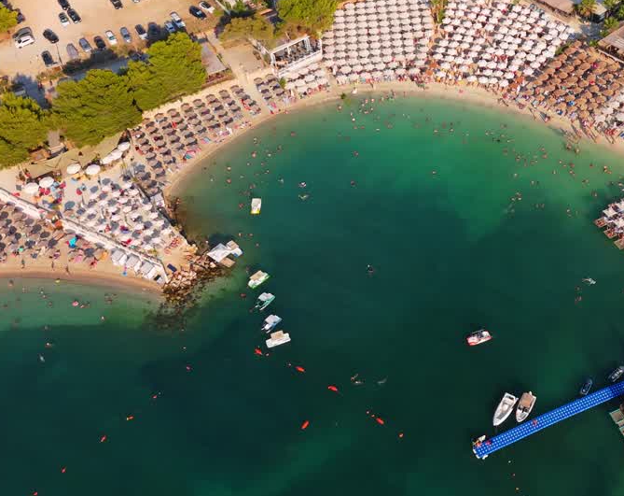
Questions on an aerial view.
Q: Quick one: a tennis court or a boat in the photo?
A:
boat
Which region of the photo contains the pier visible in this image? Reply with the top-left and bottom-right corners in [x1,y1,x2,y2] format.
[467,383,624,459]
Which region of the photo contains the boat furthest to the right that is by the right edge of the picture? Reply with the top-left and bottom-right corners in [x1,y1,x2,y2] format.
[607,366,623,383]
